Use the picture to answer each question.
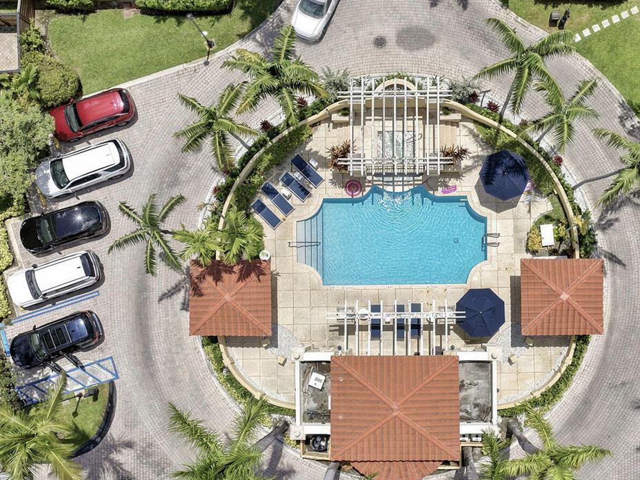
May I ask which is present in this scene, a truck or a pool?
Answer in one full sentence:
The image shows a pool.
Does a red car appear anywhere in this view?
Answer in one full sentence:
Yes, a red car is visible in the scene.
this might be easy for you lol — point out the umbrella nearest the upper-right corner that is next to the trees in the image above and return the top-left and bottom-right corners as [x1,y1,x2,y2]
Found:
[477,151,530,204]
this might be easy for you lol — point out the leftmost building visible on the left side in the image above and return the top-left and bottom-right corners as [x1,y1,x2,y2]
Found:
[187,257,277,338]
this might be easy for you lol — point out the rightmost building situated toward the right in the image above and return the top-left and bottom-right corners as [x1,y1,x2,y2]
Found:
[516,257,607,337]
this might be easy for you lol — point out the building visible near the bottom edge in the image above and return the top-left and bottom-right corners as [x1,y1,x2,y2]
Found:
[293,349,498,480]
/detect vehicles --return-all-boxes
[19,201,110,255]
[288,0,344,50]
[11,311,105,380]
[38,141,131,197]
[6,251,105,307]
[47,90,137,145]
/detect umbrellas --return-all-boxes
[477,151,530,204]
[455,288,503,337]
